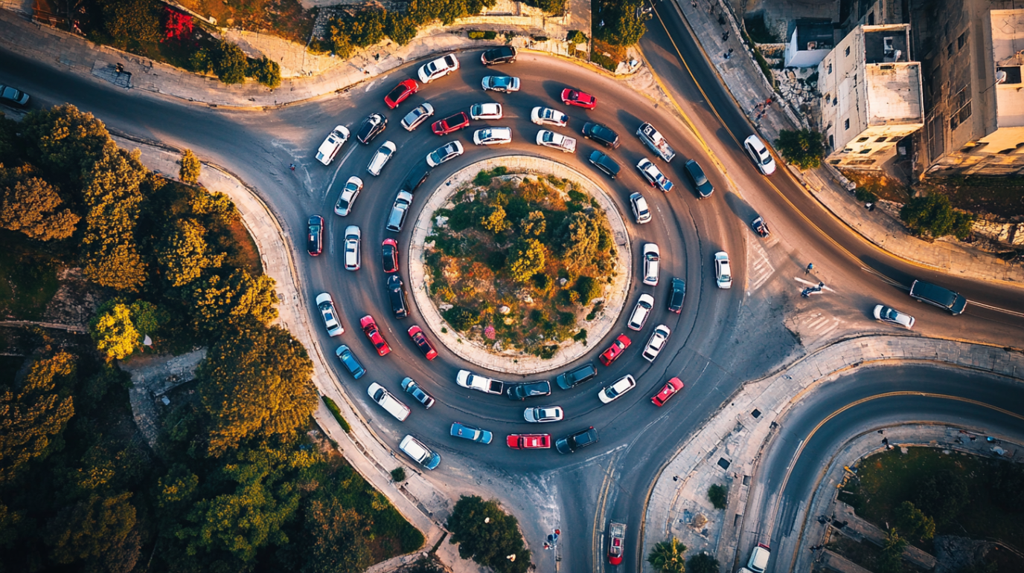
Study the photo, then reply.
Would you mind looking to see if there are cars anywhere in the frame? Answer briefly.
Yes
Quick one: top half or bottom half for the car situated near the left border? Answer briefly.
top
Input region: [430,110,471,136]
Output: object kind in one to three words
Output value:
truck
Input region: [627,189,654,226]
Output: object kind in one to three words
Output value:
car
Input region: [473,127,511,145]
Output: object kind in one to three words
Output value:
vehicle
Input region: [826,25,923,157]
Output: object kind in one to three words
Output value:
house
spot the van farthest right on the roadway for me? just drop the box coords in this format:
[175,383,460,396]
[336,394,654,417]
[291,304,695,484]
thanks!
[906,280,967,313]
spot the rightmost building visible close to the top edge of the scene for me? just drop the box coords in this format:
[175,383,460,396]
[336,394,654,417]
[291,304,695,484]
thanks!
[921,0,1024,169]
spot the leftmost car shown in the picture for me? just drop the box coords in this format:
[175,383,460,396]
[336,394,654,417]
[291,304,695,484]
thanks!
[0,82,33,107]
